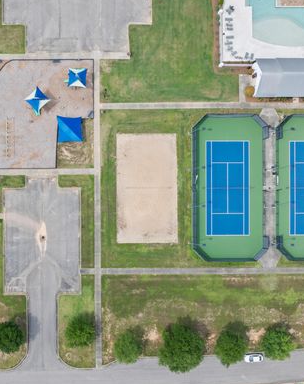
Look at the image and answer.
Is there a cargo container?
No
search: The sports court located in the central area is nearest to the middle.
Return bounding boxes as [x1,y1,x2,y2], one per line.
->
[116,133,178,244]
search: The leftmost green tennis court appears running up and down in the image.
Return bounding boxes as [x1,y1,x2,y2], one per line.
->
[195,114,264,261]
